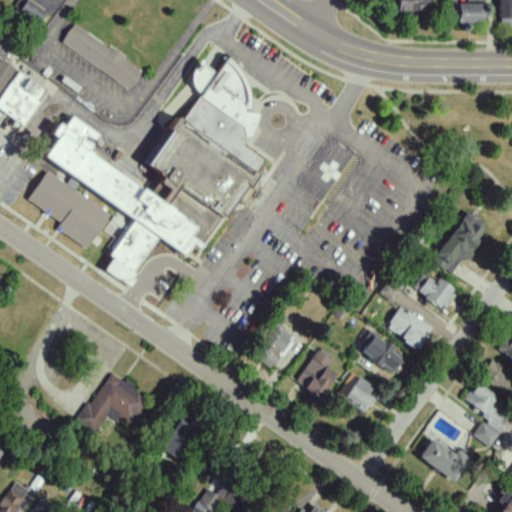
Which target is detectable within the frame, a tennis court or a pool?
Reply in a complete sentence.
It is a pool that can be seen here.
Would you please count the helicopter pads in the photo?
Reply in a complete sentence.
There is 1 helicopter pad in the image.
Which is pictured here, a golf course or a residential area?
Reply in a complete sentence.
This image shows a residential area.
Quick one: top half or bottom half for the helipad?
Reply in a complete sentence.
The helipad is in the top half of the image.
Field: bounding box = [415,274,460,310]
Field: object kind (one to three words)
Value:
house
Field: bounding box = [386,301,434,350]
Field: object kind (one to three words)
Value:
house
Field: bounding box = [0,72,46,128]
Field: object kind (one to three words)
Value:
building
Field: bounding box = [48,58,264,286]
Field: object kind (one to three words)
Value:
building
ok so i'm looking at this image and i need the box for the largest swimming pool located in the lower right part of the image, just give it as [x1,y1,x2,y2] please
[425,410,469,454]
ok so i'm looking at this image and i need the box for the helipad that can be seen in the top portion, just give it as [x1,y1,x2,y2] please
[298,135,362,204]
